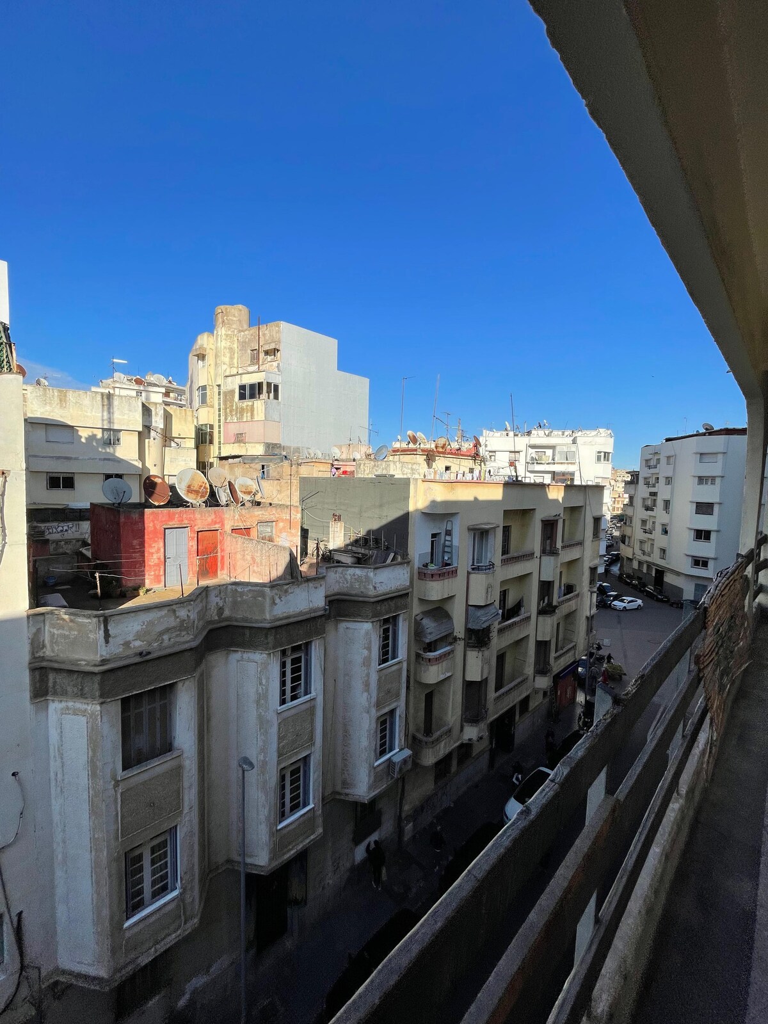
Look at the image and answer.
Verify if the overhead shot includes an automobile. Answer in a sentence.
Yes, the photo shows an automobile.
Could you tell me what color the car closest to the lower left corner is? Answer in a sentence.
The car closest to the lower left corner is black.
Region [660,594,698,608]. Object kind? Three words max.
car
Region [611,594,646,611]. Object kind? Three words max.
car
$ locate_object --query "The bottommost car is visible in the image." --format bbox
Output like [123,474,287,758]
[274,958,375,1024]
